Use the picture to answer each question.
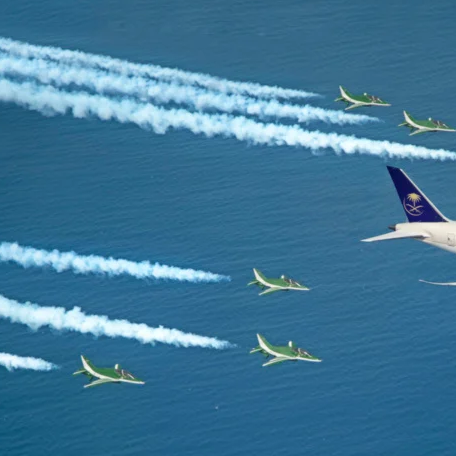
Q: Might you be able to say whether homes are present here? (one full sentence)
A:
No, the frame has no home in it.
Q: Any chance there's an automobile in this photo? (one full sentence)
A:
No, I find no automobile anywhere in the image.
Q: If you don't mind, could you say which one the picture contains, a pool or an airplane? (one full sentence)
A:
The image shows an airplane.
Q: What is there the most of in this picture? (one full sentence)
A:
The bulk of the photo consists of water.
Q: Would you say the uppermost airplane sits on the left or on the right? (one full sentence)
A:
It is on the right.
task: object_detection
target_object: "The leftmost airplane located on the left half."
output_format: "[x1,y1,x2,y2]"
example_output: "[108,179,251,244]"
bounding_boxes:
[72,355,148,388]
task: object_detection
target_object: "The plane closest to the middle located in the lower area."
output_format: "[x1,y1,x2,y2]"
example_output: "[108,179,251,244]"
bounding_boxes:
[247,269,311,295]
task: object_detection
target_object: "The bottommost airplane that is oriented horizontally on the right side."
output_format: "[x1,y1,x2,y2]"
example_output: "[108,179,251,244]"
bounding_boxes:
[249,334,321,367]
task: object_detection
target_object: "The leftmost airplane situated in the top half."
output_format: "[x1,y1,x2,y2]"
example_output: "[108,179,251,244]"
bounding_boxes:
[334,86,395,110]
